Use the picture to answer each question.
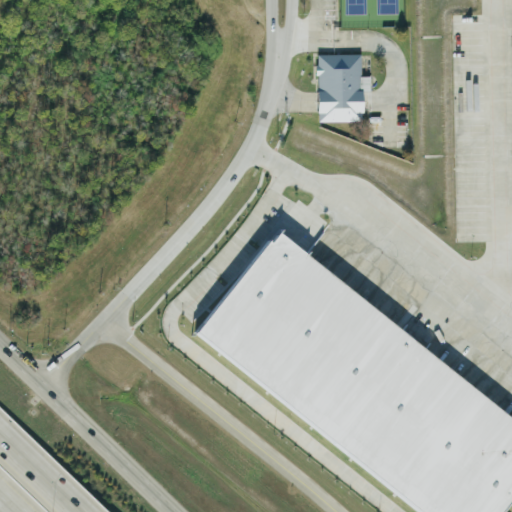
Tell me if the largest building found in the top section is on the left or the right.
right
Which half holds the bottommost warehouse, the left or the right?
right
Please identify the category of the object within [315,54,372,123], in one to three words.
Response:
building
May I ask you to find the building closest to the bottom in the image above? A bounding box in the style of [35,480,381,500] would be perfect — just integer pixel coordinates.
[195,229,512,512]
